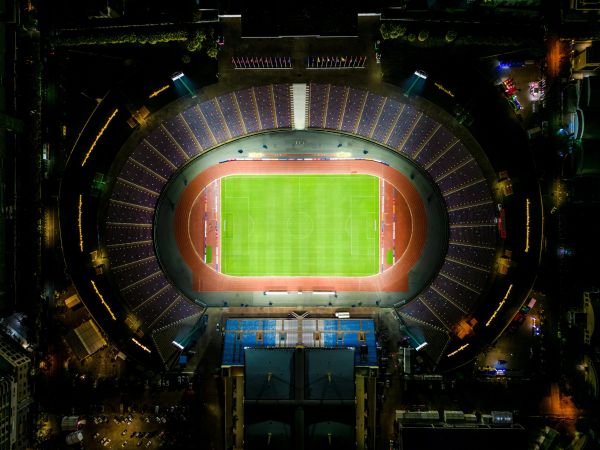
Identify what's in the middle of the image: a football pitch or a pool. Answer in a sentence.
What appears in the middle of the image is a football pitch.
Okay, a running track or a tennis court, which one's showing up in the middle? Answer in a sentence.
The feature located in the middle is a running track.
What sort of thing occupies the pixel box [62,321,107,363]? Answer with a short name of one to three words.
building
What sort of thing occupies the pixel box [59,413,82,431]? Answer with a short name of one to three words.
hangar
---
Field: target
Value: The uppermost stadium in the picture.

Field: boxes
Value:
[99,76,502,370]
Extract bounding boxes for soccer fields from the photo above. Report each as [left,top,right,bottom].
[221,175,380,276]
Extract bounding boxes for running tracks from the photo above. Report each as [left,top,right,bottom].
[175,154,427,291]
